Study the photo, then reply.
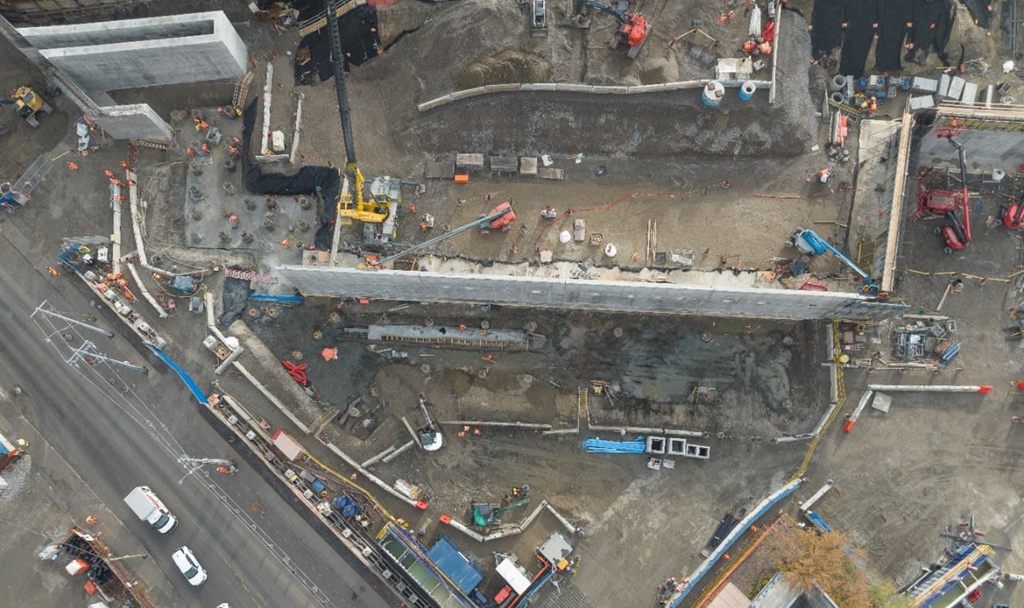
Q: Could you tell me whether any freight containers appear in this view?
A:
Yes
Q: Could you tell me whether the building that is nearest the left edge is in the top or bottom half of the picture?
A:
bottom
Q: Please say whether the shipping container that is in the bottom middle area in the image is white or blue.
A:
blue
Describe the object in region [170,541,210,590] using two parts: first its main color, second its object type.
white car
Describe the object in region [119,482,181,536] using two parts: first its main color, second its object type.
white van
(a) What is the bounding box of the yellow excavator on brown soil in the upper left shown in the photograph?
[0,85,57,130]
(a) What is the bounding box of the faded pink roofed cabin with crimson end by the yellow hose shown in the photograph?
[268,428,303,458]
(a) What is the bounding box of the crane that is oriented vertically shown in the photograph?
[320,0,421,249]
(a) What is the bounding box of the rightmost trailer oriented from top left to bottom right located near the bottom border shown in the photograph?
[488,546,532,596]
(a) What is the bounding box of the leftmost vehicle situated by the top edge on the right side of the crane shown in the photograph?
[529,0,550,35]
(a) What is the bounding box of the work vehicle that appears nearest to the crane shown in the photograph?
[358,201,521,271]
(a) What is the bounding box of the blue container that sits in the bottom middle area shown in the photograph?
[427,534,487,596]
